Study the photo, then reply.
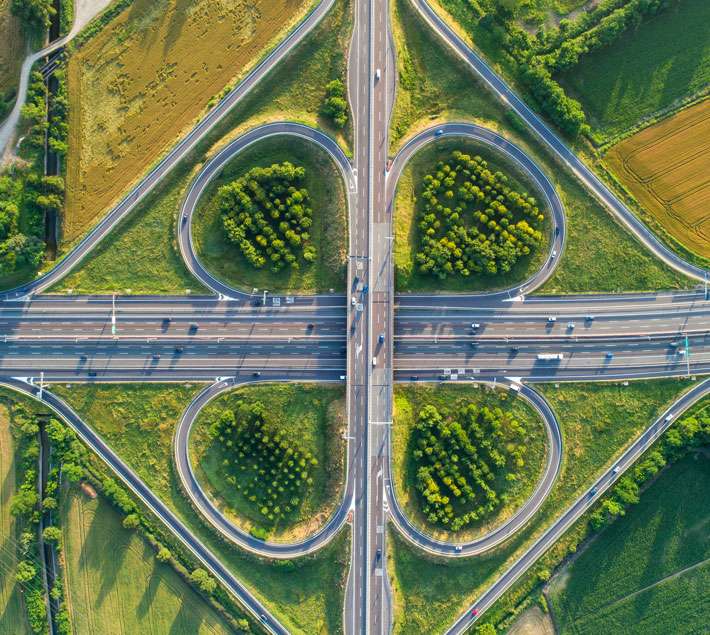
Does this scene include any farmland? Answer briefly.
Yes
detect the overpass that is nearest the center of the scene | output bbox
[345,281,395,397]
